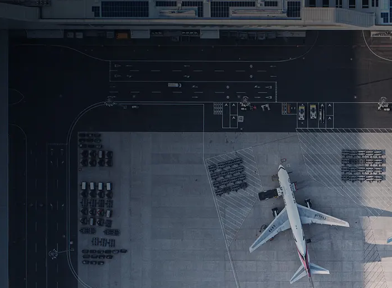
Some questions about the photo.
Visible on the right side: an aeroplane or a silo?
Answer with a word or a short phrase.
aeroplane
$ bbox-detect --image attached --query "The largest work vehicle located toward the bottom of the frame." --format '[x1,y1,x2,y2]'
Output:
[257,189,282,202]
